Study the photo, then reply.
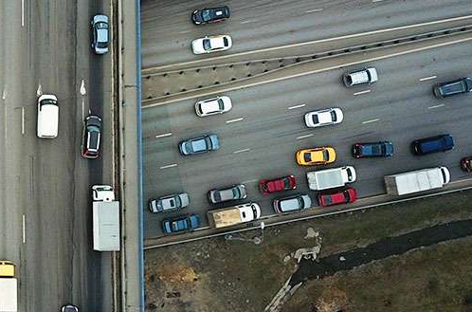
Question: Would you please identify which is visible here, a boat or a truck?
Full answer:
The image shows a truck.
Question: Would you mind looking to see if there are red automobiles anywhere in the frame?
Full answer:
Yes, you can see a red automobile in this photo.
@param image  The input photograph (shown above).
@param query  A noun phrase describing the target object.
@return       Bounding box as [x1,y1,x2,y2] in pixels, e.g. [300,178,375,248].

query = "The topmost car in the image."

[191,7,230,26]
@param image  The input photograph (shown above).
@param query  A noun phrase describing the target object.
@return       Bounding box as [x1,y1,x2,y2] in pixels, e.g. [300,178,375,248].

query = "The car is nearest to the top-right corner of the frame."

[430,76,472,100]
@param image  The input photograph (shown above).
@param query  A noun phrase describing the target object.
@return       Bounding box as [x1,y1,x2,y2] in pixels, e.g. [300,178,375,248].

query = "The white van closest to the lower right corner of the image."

[382,165,453,198]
